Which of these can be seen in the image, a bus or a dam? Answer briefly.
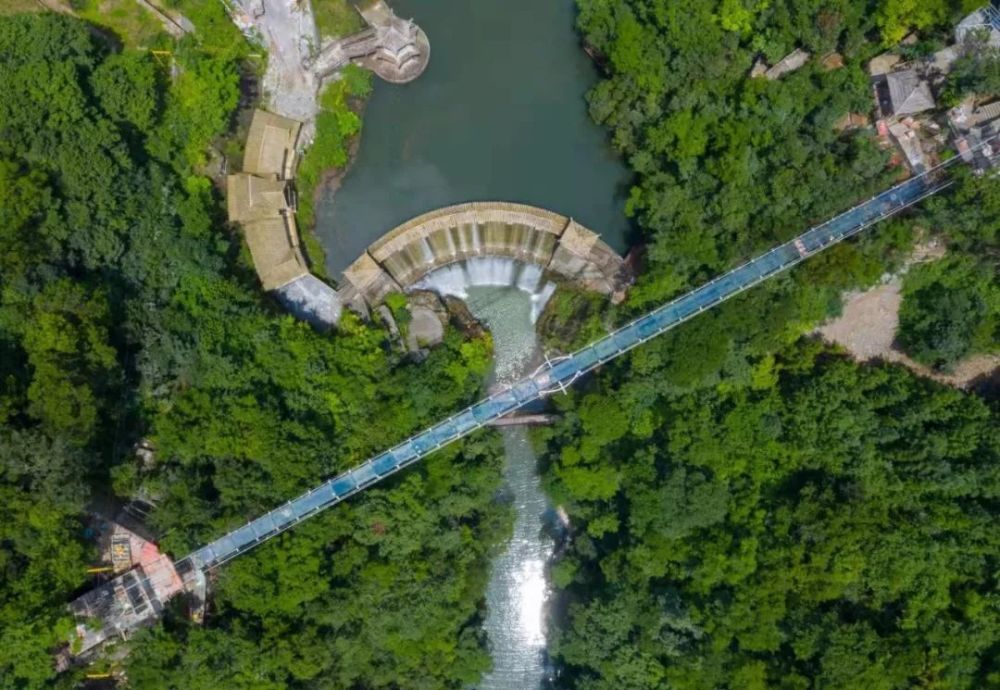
dam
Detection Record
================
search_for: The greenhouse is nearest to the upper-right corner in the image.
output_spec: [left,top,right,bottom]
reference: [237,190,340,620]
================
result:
[942,3,1000,57]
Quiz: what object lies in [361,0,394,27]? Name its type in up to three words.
pier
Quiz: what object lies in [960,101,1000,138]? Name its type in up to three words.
shed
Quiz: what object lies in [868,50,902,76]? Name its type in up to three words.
shed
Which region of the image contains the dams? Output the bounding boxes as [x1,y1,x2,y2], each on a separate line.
[378,222,561,287]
